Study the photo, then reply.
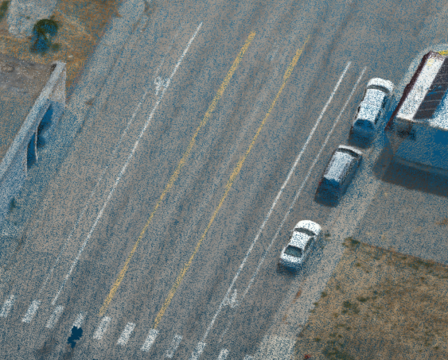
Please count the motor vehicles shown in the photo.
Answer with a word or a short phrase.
3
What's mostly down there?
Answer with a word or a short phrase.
paved ground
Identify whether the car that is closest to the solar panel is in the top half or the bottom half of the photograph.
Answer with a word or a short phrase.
top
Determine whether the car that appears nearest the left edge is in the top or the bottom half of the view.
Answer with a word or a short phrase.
bottom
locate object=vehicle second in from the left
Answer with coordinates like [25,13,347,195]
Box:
[315,147,363,200]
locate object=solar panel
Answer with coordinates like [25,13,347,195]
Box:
[414,58,448,123]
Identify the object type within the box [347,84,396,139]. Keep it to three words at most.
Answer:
car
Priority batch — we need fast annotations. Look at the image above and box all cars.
[315,147,363,200]
[347,84,396,139]
[277,220,322,273]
